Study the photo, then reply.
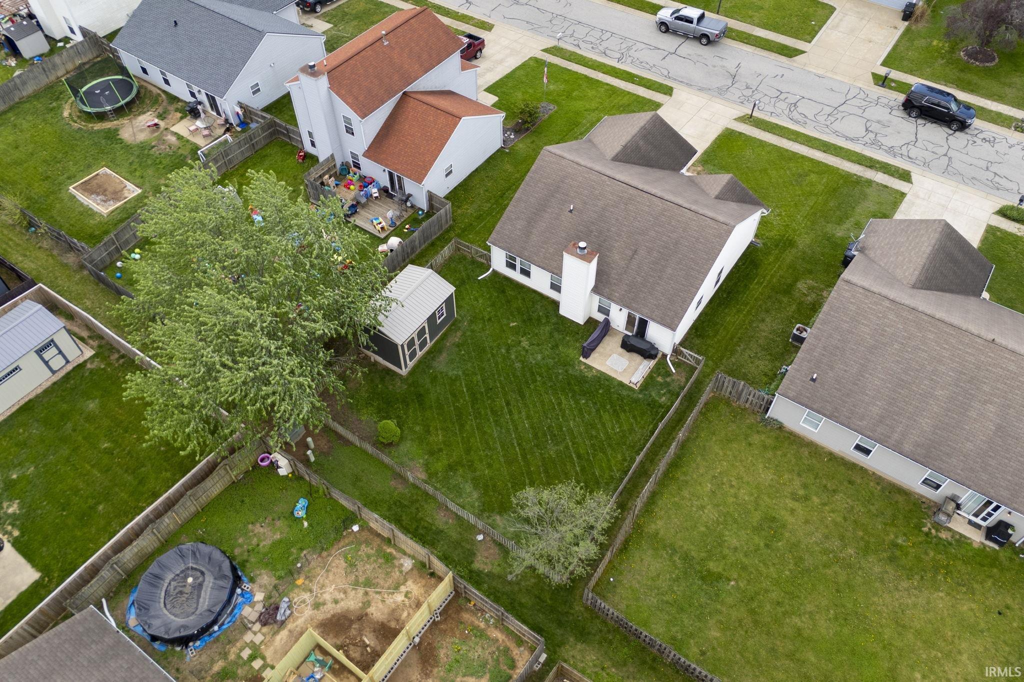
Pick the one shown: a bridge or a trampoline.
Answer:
trampoline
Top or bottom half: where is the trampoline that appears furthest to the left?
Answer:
top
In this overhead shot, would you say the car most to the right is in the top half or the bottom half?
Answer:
top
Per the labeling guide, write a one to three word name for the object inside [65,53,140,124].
trampoline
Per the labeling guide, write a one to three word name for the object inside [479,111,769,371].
house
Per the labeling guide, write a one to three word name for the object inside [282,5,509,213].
house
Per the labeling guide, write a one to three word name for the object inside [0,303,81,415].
shed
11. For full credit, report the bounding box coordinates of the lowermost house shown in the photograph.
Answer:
[0,599,183,682]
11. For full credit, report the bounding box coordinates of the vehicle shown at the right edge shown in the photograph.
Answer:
[899,83,980,133]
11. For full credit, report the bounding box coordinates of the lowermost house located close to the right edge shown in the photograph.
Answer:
[770,218,1024,552]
